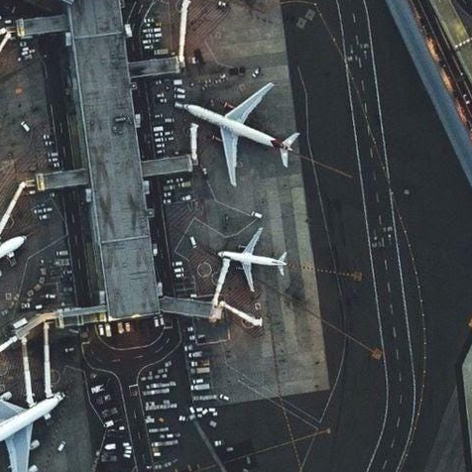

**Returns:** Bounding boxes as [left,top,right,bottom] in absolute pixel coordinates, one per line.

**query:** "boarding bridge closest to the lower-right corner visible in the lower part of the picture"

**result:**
[213,298,266,327]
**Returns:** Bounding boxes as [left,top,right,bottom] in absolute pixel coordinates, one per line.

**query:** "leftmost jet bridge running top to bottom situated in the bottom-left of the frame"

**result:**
[19,334,33,408]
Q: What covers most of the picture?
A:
paved ground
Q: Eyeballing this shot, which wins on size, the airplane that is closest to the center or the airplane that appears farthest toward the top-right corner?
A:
the airplane that appears farthest toward the top-right corner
